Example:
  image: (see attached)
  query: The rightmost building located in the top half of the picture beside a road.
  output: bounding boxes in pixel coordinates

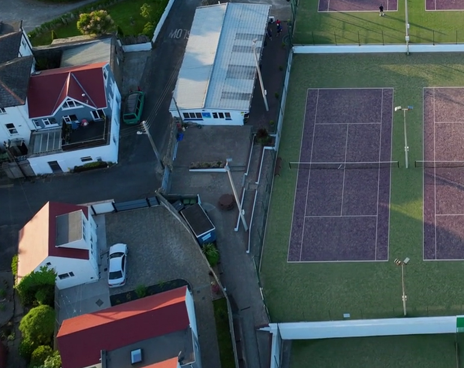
[169,1,270,125]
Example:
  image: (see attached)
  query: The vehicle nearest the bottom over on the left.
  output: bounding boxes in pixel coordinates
[106,245,127,287]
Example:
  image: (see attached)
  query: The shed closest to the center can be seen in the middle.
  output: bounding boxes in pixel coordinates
[182,203,218,243]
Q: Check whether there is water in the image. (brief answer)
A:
No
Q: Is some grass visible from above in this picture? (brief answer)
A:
Yes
